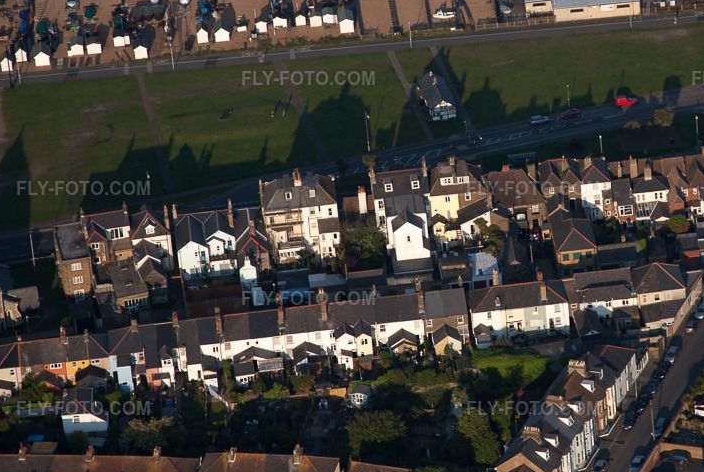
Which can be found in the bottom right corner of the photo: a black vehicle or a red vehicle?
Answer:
black vehicle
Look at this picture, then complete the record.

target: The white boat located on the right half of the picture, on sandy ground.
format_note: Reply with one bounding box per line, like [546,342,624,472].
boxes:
[433,4,456,19]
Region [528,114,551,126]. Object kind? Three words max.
vehicle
